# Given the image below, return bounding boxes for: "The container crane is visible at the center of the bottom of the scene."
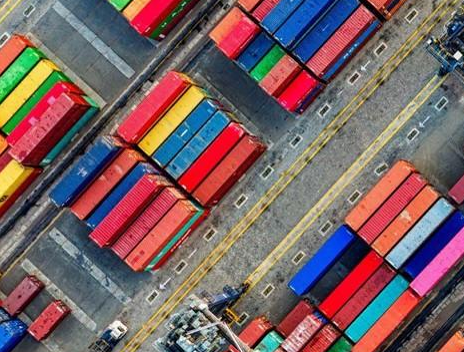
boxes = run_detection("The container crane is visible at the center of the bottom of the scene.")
[147,283,260,352]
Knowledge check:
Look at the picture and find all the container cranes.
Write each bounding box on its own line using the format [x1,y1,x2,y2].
[422,3,464,86]
[147,283,260,352]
